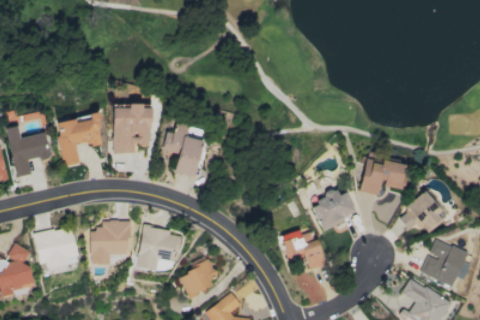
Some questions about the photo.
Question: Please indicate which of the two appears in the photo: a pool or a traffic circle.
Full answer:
The image shows a pool.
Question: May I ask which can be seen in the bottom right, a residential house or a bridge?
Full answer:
What appears in the bottom right is a residential house.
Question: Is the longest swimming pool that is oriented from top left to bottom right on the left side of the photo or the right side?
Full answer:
It is on the right.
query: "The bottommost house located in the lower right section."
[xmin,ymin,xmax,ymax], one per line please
[398,279,452,320]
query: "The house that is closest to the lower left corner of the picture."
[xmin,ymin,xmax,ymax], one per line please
[0,243,35,298]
